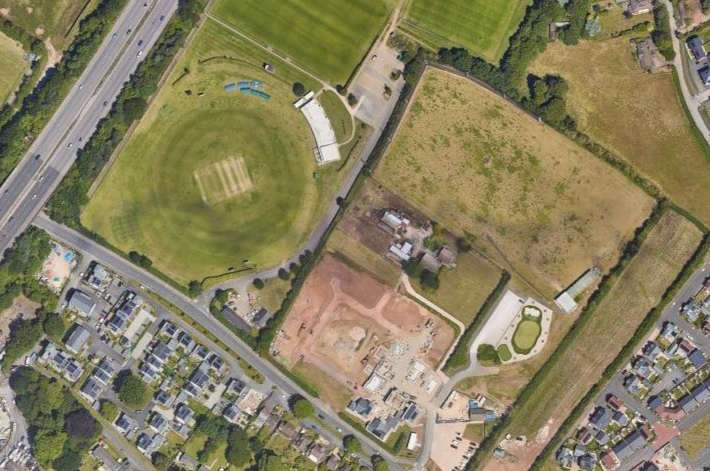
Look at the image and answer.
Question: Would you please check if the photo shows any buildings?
Yes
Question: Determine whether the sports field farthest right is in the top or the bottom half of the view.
top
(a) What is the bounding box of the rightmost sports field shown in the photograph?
[398,0,532,66]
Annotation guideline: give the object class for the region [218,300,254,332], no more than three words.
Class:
building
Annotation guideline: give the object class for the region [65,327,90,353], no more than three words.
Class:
house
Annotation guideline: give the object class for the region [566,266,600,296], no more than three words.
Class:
barn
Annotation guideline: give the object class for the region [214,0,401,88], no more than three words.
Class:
sports field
